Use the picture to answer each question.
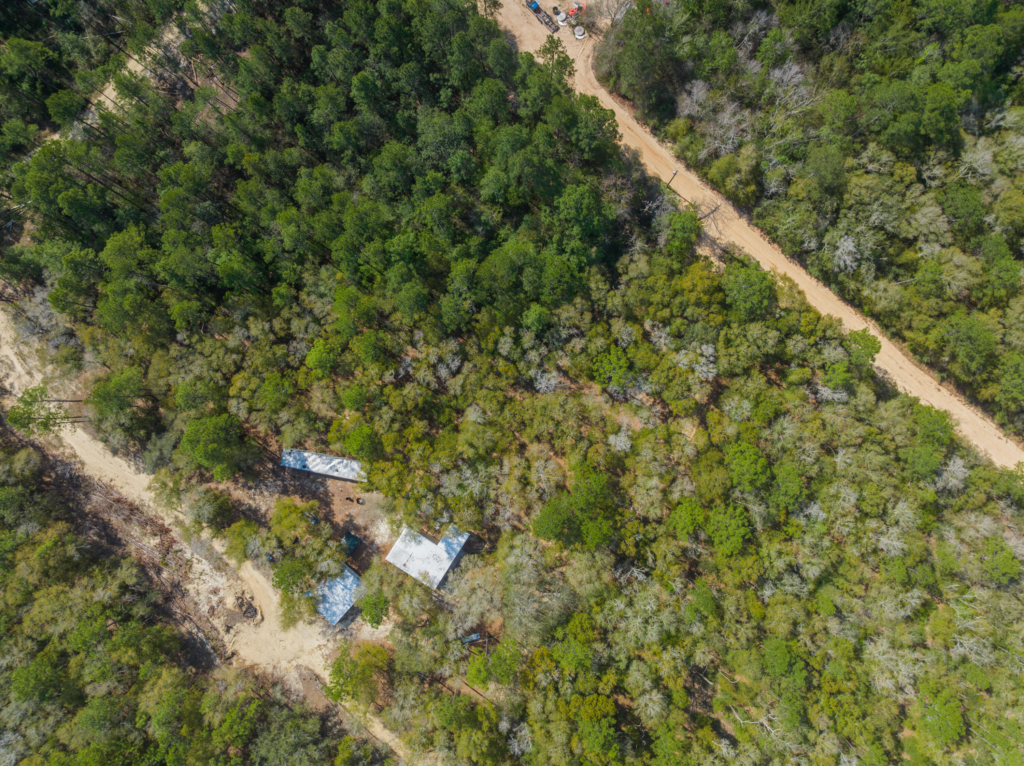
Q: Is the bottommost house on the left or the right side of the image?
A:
left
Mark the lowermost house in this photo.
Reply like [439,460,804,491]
[306,563,365,625]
